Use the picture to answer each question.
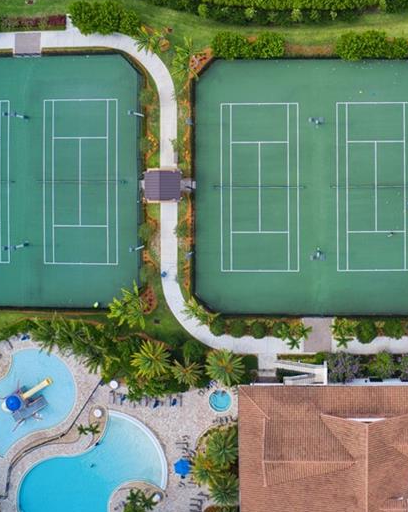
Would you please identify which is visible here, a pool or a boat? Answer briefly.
pool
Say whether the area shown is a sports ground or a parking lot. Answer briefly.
sports ground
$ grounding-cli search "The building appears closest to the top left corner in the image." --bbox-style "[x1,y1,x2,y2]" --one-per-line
[144,168,185,204]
